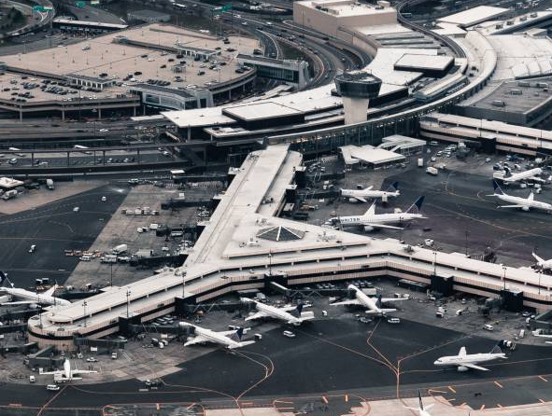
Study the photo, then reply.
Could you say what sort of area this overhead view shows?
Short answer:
airport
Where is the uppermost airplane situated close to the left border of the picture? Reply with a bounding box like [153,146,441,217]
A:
[0,271,56,309]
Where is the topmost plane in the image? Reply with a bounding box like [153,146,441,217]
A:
[491,167,545,183]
